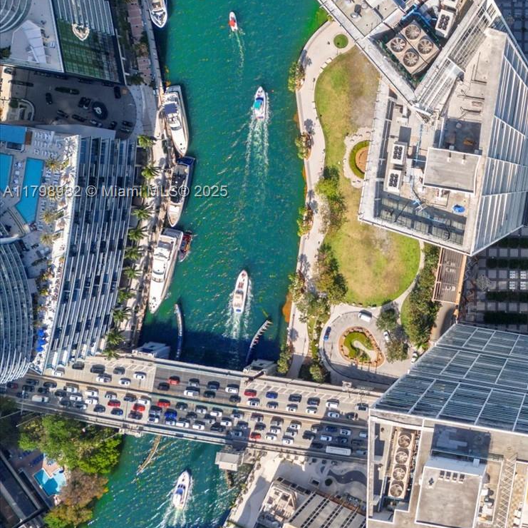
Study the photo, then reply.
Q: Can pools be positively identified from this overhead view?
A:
Yes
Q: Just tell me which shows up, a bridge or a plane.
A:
bridge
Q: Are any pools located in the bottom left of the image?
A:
Yes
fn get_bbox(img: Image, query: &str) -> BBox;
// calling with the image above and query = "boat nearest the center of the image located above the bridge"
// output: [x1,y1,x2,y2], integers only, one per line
[233,271,248,314]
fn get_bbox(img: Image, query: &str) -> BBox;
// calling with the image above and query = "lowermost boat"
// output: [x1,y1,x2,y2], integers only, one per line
[173,470,192,510]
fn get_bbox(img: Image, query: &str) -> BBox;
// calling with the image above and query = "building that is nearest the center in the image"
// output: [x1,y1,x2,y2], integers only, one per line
[242,354,280,377]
